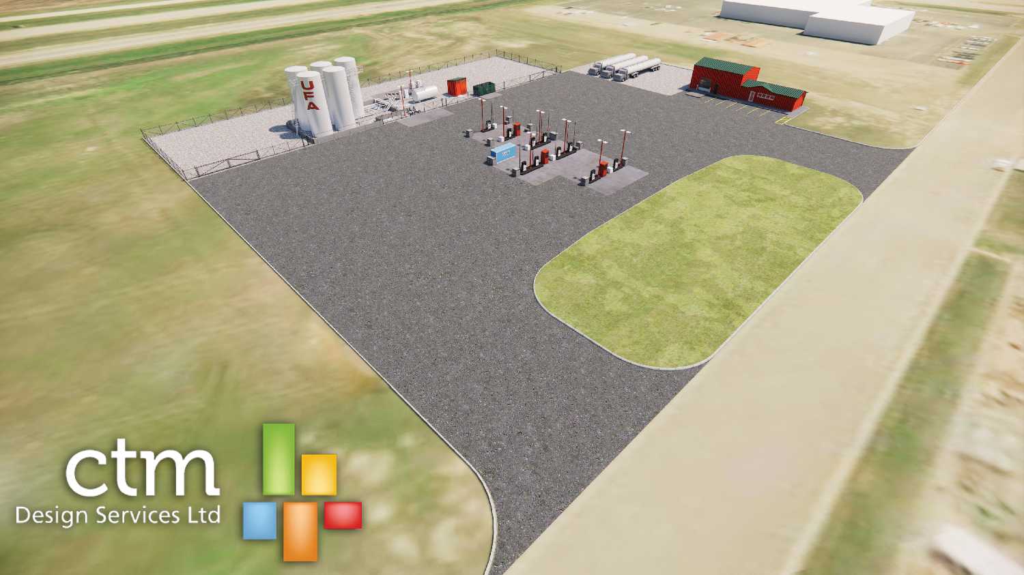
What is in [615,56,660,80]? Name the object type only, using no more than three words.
truck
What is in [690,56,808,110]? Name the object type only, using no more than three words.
building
